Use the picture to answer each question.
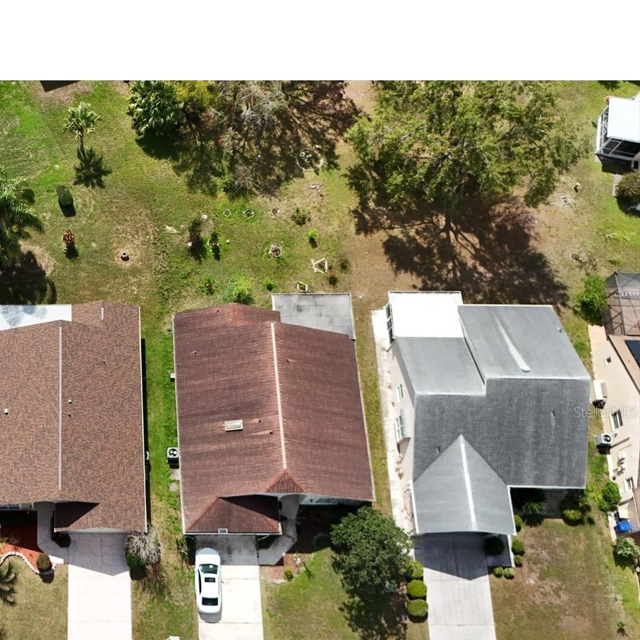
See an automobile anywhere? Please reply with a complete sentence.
Yes, you can see an automobile in this photo.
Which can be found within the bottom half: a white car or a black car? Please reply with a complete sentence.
The one visible within the bottom half is a white car.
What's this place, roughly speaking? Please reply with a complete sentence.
It's a residential area.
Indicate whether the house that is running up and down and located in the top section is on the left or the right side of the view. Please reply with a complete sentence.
It is on the right.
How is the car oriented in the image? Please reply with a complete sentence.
The car is laid out up and down.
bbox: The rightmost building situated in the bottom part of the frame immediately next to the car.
[173,293,374,535]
